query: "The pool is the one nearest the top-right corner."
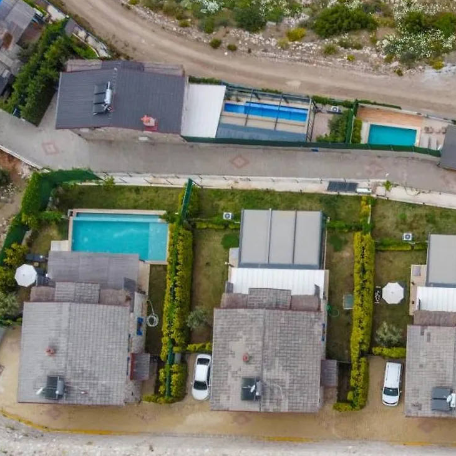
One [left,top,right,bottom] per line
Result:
[364,122,420,150]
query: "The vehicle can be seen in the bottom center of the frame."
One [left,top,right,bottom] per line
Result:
[191,354,212,400]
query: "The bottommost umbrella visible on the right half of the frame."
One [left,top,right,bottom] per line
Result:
[382,282,403,303]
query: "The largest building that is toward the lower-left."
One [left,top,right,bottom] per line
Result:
[18,282,150,406]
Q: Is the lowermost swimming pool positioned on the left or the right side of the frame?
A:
left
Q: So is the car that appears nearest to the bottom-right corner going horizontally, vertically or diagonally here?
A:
vertically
